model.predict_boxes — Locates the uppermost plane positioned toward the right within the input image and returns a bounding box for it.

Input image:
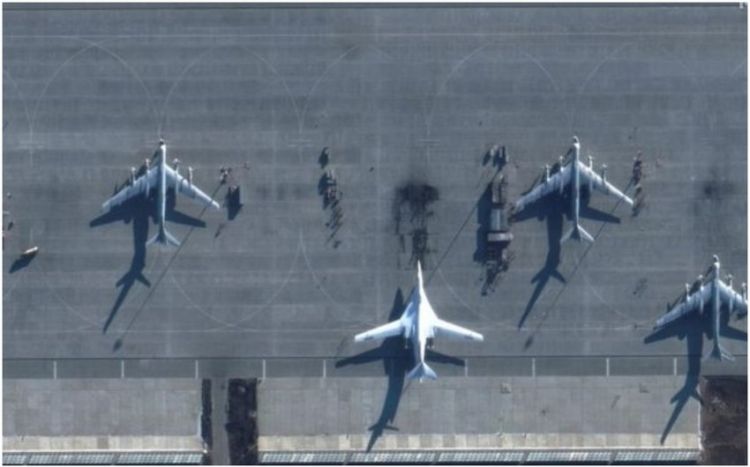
[519,137,634,247]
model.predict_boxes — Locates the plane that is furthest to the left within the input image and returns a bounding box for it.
[104,135,220,249]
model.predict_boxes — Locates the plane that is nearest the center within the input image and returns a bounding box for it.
[357,261,486,382]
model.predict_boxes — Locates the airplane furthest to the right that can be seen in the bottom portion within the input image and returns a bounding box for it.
[660,251,750,367]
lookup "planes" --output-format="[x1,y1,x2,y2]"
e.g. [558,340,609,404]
[104,135,220,249]
[660,251,750,367]
[519,137,634,247]
[357,261,486,382]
